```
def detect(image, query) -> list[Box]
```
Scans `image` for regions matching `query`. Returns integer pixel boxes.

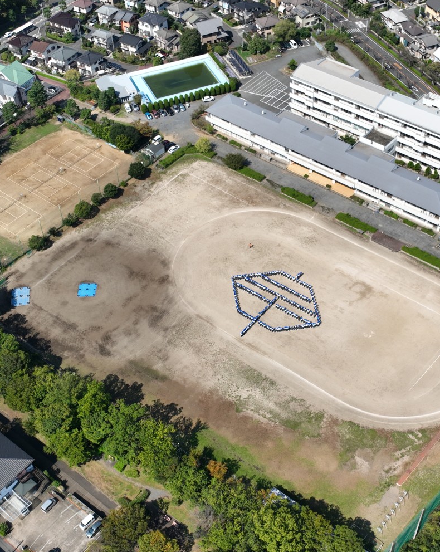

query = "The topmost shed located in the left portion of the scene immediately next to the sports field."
[143,138,172,161]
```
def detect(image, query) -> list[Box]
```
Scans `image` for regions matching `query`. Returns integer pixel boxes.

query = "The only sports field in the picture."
[0,154,440,552]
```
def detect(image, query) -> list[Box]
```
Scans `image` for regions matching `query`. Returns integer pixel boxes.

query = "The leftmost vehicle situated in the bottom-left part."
[15,503,34,523]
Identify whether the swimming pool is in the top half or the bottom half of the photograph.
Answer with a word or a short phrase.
top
